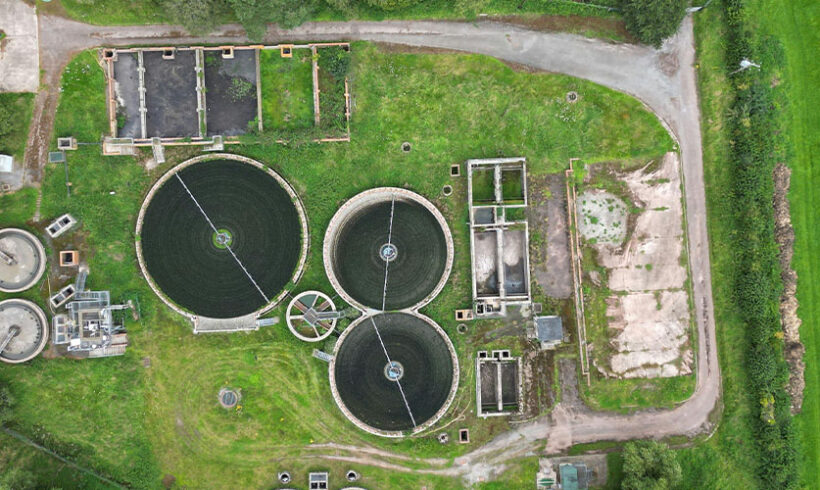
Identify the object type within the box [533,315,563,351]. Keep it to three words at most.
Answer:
shed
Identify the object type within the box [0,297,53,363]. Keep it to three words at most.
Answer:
storage tank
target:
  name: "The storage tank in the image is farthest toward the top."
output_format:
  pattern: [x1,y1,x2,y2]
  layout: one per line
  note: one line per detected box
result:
[0,228,51,293]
